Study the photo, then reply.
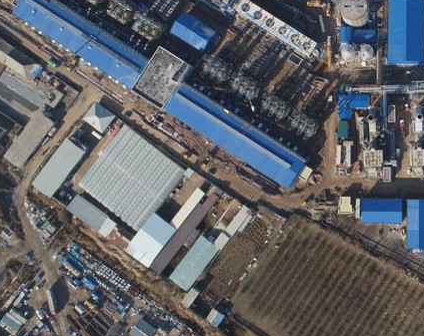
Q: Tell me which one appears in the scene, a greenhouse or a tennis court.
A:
greenhouse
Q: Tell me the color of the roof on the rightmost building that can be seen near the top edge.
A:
blue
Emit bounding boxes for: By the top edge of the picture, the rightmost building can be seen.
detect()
[388,0,424,67]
